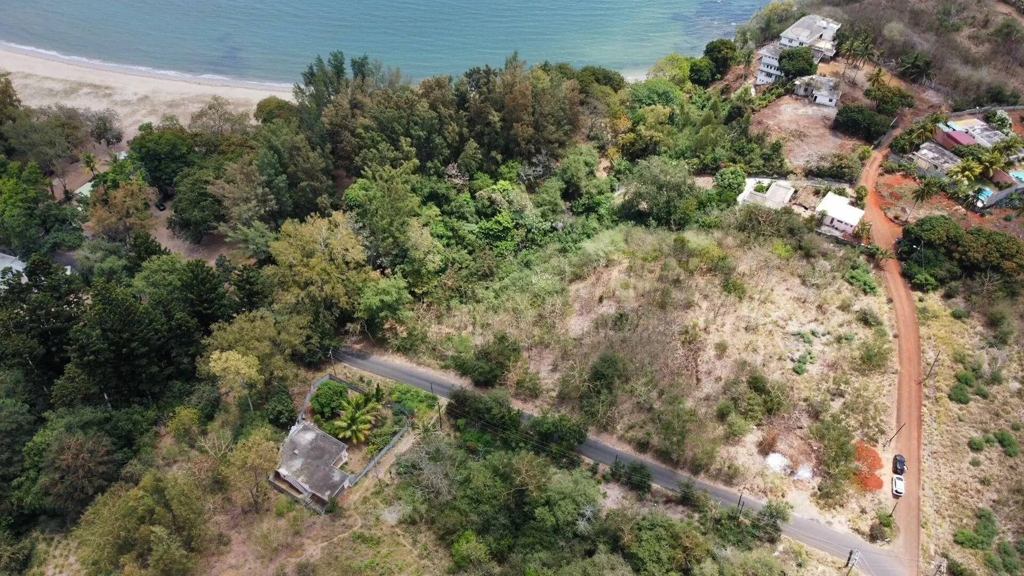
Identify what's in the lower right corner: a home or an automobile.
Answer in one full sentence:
It is an automobile that can be seen in the lower right corner.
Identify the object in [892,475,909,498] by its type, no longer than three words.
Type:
car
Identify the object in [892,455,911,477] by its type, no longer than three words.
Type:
car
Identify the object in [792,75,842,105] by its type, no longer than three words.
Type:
building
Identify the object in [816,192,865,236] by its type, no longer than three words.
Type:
house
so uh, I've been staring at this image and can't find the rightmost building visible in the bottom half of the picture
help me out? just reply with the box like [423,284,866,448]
[268,420,351,505]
